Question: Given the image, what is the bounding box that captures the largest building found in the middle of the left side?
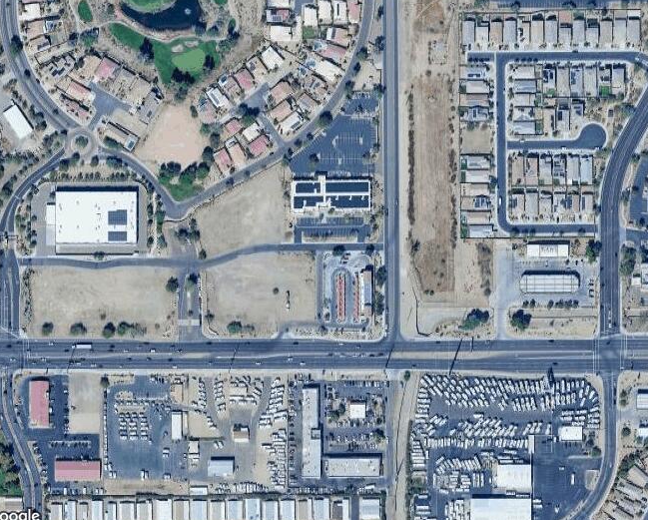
[45,192,138,245]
